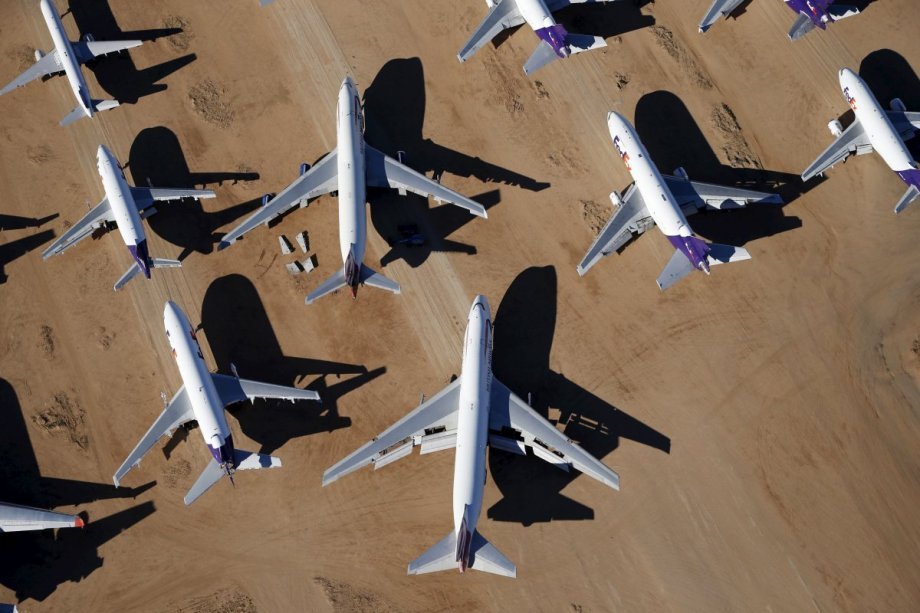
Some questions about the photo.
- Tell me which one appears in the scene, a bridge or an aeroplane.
aeroplane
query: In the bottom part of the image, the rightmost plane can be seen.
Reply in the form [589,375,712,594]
[323,292,617,577]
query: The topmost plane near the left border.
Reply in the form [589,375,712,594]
[2,0,143,127]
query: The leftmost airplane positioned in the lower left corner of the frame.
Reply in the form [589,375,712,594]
[0,502,81,532]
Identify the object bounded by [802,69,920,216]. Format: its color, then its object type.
white airplane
